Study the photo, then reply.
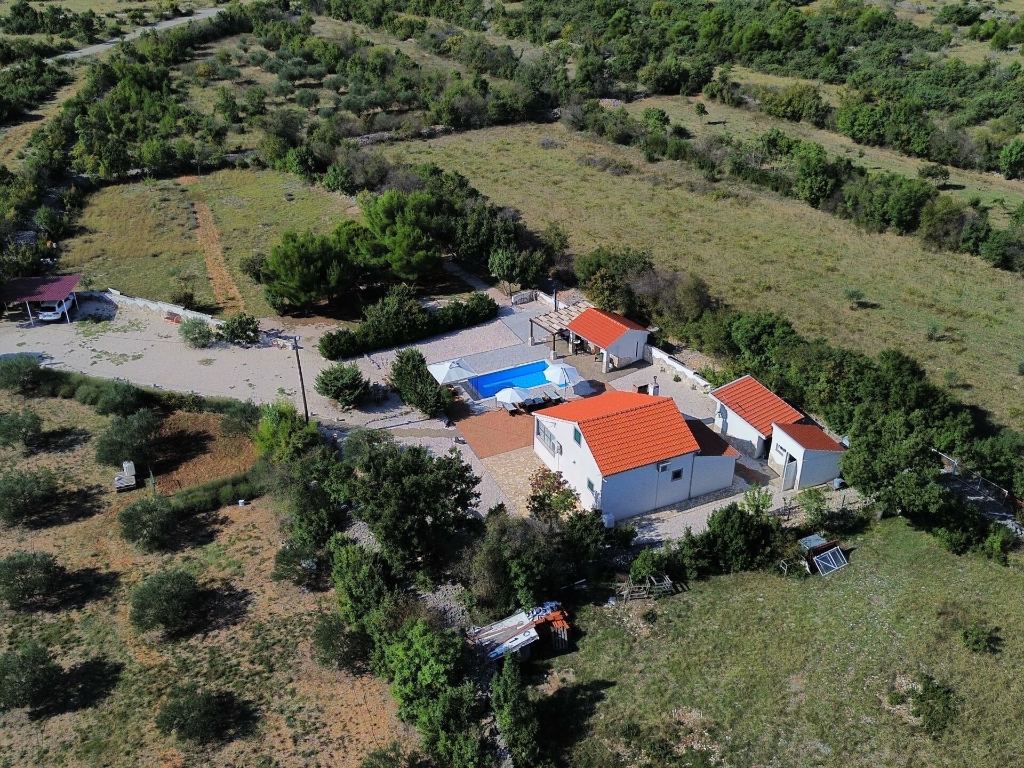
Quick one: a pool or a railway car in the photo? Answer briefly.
pool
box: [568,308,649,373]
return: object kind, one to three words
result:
building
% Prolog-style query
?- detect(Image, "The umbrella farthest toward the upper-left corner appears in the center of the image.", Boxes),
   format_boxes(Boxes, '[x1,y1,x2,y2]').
[428,358,483,405]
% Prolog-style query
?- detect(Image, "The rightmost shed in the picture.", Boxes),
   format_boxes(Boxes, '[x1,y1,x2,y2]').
[767,423,848,493]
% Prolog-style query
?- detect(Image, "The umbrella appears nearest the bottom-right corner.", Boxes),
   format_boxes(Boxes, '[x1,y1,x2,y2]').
[542,365,582,405]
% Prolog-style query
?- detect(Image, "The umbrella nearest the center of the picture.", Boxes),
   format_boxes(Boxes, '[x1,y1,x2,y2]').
[488,385,532,416]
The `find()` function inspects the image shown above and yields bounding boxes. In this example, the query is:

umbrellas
[488,385,532,416]
[428,358,483,405]
[542,365,582,405]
